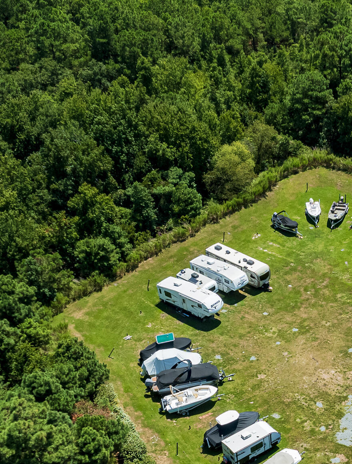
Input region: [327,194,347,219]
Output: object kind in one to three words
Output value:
boat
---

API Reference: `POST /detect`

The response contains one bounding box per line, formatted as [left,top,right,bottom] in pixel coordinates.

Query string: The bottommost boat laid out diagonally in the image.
[202,409,259,451]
